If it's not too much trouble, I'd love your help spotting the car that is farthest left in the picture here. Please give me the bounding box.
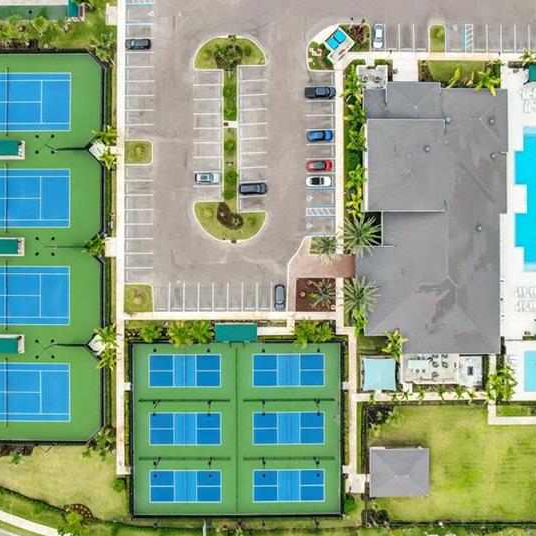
[125,37,152,50]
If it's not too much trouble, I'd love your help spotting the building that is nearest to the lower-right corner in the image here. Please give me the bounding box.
[369,441,429,497]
